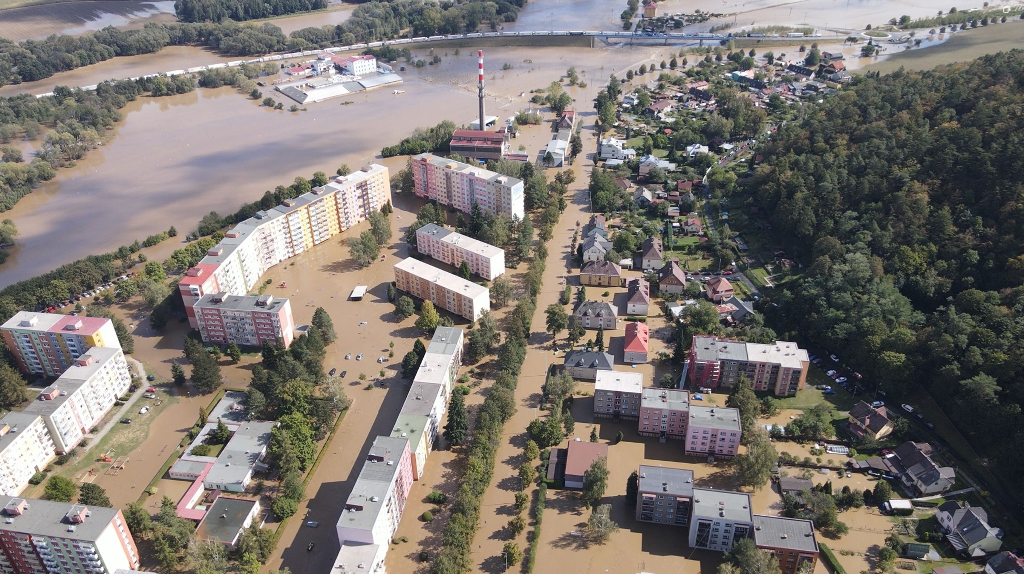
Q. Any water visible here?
Yes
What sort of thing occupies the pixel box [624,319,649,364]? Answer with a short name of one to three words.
house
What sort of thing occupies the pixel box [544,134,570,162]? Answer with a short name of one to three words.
barn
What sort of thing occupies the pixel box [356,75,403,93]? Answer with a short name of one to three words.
shed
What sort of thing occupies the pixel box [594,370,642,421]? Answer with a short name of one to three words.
building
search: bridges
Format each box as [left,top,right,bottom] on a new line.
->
[594,34,726,49]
